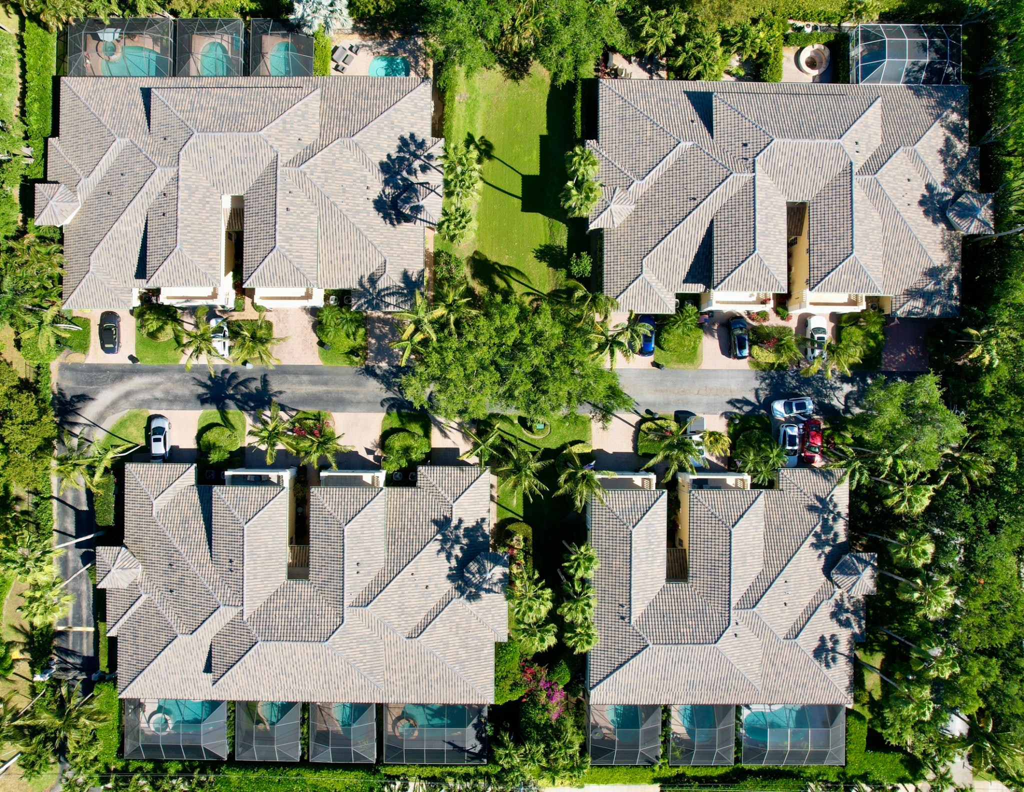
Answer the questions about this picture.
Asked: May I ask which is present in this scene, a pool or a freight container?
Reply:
pool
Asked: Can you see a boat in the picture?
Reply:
No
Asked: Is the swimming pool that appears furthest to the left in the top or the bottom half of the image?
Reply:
top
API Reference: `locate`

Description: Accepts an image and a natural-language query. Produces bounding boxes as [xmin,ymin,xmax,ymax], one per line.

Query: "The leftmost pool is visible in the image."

[56,18,174,76]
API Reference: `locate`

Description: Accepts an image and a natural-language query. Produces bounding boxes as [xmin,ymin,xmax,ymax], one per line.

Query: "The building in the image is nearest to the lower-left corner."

[95,462,511,704]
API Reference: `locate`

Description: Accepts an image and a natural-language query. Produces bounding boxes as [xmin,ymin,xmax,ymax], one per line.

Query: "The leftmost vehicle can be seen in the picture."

[99,312,123,355]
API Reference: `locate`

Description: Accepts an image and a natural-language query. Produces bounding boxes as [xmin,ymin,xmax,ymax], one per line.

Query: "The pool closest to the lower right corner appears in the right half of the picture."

[743,704,840,759]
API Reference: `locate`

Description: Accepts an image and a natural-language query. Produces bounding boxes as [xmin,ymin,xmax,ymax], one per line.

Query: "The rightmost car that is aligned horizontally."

[769,397,814,418]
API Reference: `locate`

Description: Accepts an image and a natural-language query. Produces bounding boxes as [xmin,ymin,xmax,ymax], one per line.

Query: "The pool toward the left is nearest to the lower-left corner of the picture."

[129,701,229,756]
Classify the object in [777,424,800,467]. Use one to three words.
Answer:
car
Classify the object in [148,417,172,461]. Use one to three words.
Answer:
car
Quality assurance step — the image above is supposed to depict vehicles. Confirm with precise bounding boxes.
[148,417,172,461]
[805,318,828,359]
[637,316,657,357]
[99,312,123,355]
[799,420,805,436]
[727,317,750,360]
[769,397,814,418]
[800,421,823,464]
[777,424,800,467]
[209,318,232,359]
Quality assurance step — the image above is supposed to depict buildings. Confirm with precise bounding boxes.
[32,74,447,314]
[583,78,994,320]
[95,462,511,704]
[495,466,879,705]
